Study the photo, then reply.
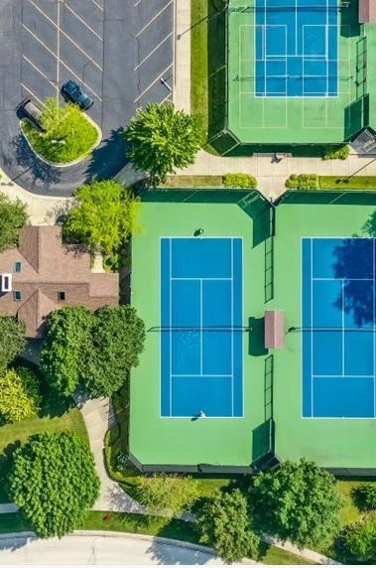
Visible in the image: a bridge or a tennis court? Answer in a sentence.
The one in the frame is a tennis court.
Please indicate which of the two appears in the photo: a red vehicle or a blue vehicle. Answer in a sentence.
There is a blue vehicle in the scene.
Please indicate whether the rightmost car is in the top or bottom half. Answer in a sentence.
It is in the top half that the rightmost car appears.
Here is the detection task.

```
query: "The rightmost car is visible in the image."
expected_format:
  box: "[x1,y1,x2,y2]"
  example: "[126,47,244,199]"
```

[59,79,94,109]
